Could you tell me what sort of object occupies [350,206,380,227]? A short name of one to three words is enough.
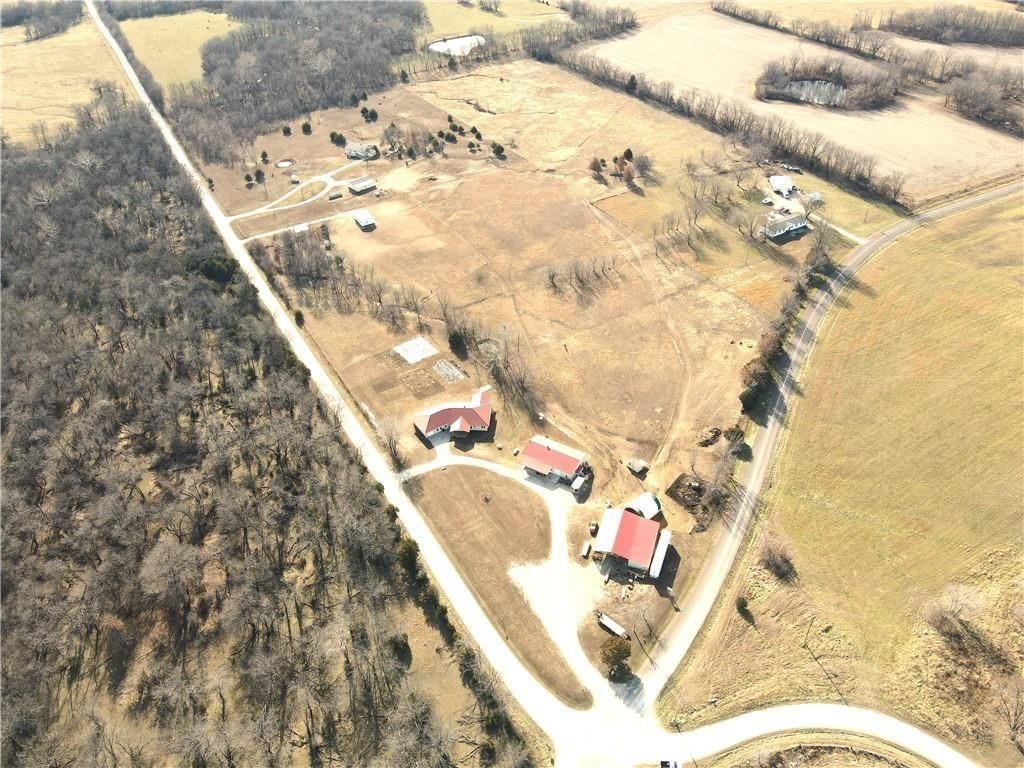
barn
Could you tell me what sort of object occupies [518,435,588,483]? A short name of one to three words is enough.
building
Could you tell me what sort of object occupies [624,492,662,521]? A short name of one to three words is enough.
shed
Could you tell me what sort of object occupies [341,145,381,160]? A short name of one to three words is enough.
house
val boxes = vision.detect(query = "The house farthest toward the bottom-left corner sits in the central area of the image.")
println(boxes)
[412,389,491,442]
